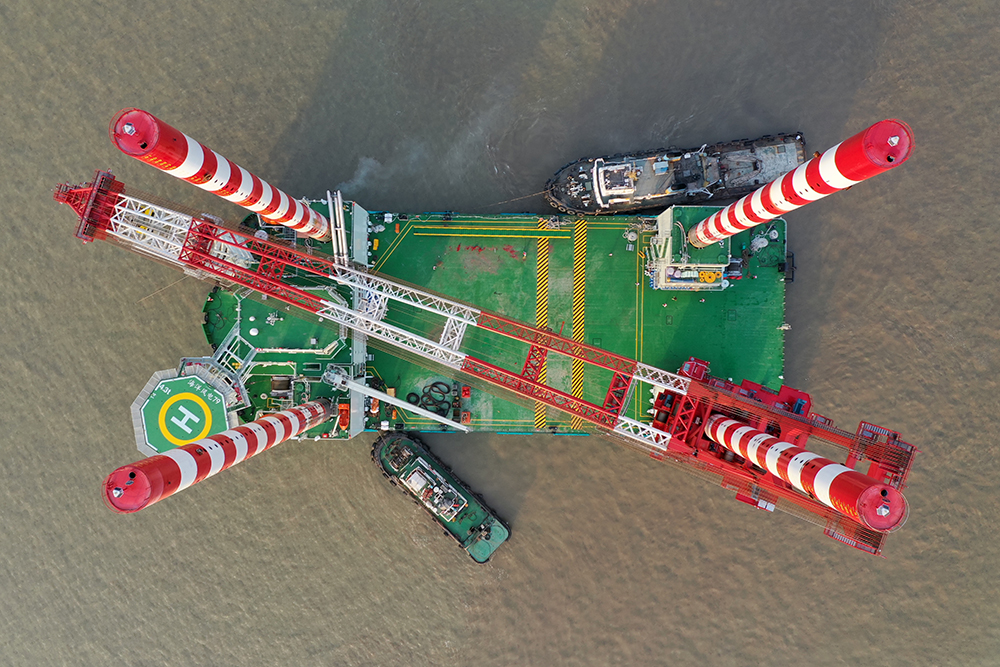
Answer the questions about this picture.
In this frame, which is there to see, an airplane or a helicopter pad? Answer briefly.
helicopter pad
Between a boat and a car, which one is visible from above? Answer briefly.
boat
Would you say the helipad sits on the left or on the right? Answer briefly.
left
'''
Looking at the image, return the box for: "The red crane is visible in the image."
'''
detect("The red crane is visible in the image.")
[49,167,926,559]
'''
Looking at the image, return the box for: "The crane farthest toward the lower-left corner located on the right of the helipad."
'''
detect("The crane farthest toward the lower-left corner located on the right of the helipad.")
[323,365,472,435]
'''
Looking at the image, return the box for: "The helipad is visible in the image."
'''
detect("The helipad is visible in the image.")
[131,323,260,456]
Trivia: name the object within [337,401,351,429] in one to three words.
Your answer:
boat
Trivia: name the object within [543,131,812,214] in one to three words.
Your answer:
boat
